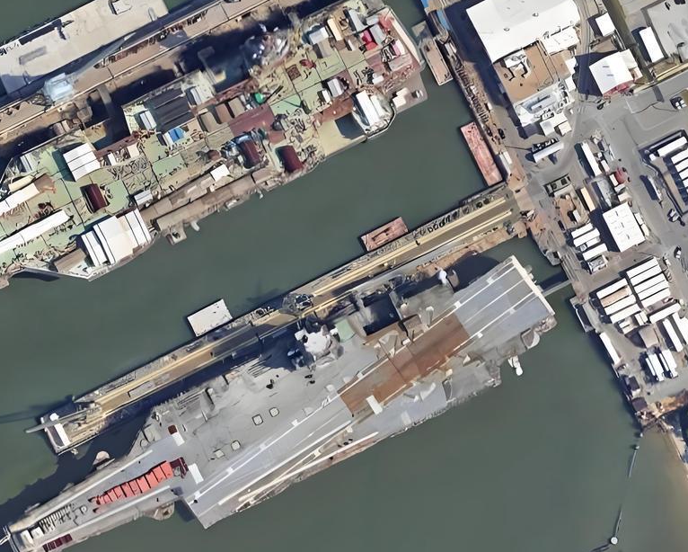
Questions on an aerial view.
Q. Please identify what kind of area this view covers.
port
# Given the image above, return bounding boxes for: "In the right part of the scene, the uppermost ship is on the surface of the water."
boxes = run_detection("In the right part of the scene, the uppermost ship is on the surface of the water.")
[412,21,433,42]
